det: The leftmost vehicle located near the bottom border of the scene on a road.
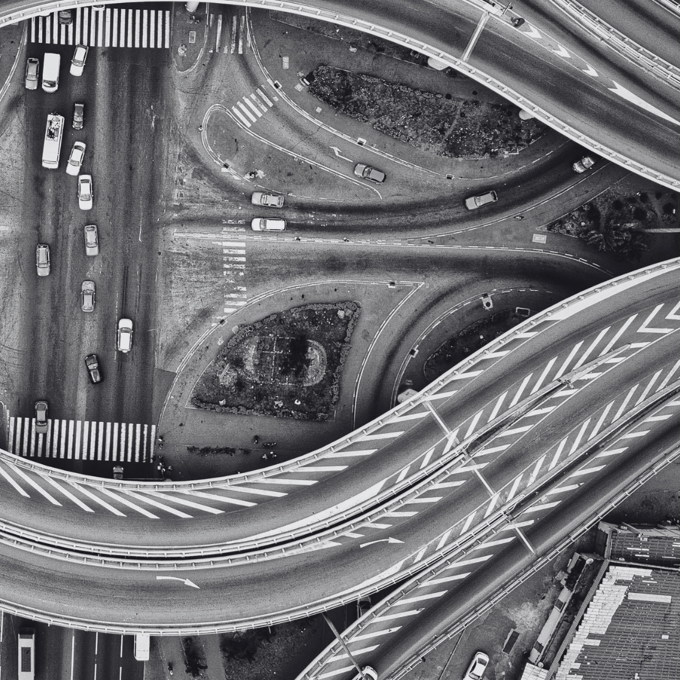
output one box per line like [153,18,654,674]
[18,626,36,680]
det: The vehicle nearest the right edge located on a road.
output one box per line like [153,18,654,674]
[569,152,601,174]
